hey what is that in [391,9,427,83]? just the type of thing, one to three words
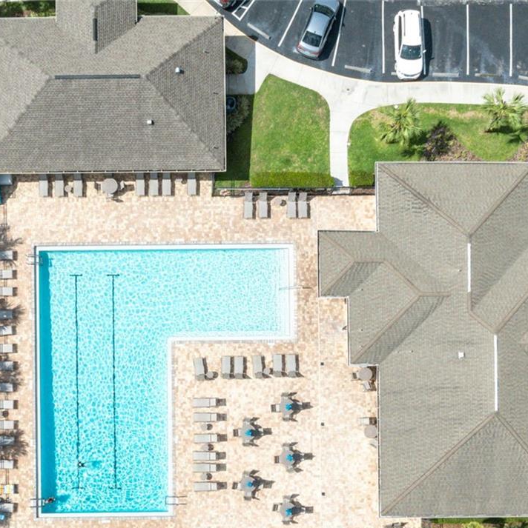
car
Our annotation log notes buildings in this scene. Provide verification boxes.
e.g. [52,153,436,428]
[316,161,528,518]
[0,0,226,176]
